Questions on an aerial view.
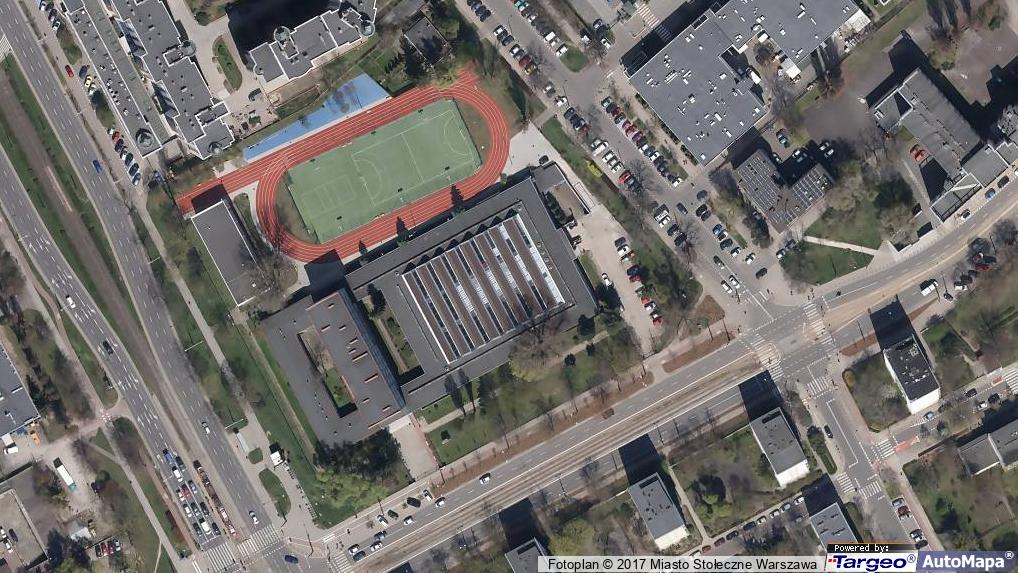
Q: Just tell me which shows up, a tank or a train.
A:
train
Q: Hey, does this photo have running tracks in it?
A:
Yes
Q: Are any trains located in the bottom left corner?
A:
Yes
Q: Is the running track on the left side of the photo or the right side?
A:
left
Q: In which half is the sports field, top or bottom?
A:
top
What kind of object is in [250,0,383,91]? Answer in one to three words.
house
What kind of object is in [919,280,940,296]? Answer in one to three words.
vehicle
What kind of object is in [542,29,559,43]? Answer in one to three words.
vehicle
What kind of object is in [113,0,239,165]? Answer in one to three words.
building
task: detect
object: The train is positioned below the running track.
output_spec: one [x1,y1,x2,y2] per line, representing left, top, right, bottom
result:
[195,461,242,541]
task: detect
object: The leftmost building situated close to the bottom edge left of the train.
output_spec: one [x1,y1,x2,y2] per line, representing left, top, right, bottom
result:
[0,466,64,554]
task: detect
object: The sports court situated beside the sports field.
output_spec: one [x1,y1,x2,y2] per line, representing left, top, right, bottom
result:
[244,74,390,161]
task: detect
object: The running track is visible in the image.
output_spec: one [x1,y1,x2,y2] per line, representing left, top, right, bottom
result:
[177,69,510,265]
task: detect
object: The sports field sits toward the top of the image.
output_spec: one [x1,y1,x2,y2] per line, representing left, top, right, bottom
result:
[288,98,481,243]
